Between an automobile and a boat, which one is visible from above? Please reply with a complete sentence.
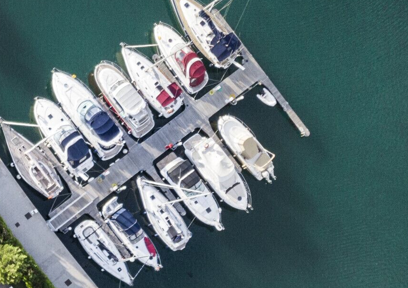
Visible in the photo is a boat.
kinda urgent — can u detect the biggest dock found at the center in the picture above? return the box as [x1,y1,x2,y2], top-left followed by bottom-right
[39,8,311,260]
